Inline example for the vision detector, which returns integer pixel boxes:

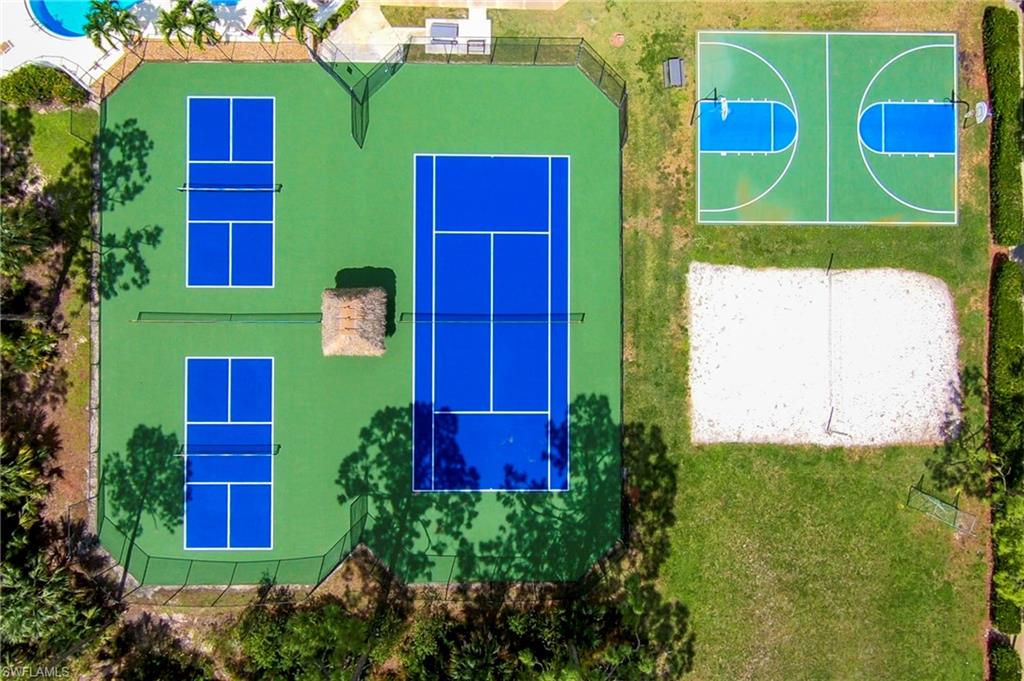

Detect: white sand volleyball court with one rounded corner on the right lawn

[688,263,962,448]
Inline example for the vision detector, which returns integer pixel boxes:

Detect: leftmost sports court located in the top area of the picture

[187,96,274,287]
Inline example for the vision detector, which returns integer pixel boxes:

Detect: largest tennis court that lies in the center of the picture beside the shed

[414,154,569,491]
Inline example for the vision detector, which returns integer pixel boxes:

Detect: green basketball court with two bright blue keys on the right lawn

[697,31,958,224]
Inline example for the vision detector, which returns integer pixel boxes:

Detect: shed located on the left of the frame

[321,287,388,355]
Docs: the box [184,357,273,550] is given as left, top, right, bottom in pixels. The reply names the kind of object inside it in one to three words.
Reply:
sports court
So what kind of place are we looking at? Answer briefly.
sports ground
